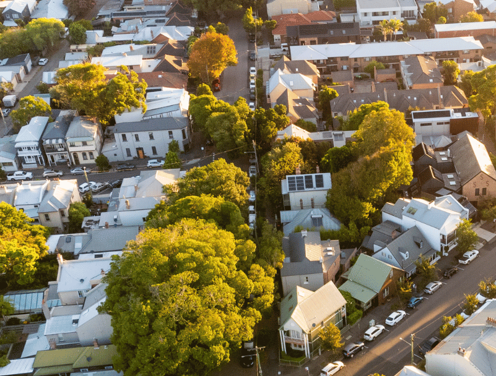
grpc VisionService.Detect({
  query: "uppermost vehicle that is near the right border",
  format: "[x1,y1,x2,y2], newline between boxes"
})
[457,250,480,266]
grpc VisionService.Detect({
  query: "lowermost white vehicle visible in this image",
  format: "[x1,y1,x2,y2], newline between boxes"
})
[318,361,345,376]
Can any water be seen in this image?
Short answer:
No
